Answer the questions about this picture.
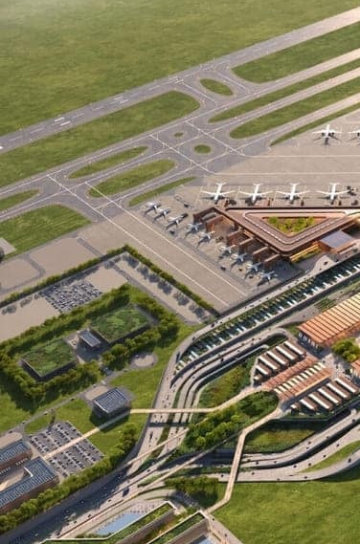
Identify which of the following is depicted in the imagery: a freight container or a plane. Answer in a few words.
plane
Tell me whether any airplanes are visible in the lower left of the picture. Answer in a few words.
No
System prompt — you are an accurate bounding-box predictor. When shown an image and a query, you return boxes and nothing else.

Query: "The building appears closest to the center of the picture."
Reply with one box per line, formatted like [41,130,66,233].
[90,305,154,347]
